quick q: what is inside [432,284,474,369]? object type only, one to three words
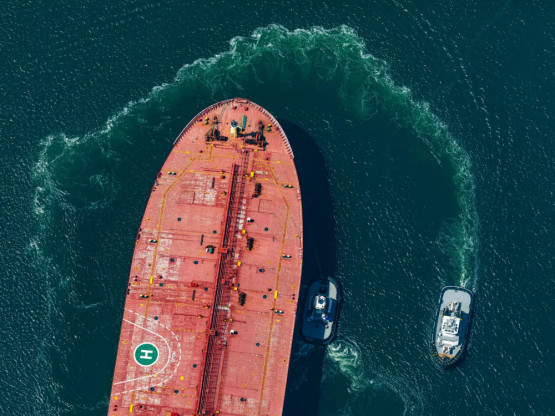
boat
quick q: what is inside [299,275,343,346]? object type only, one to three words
boat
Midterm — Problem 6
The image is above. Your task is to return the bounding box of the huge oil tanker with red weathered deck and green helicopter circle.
[107,96,303,416]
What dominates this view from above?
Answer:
water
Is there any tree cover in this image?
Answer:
No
